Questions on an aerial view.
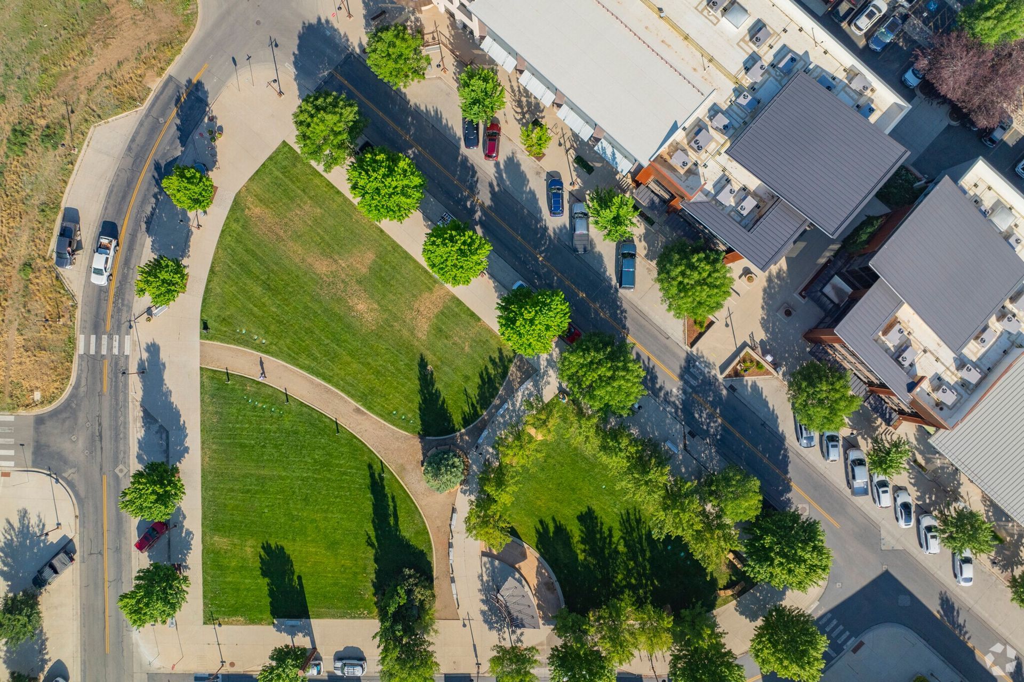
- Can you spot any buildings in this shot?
Yes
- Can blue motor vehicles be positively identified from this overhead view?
Yes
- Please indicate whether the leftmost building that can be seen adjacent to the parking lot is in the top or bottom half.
top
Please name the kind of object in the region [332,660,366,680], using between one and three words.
car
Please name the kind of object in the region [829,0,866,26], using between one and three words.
truck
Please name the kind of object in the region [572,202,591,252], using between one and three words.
vehicle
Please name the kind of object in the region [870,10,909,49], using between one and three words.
car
